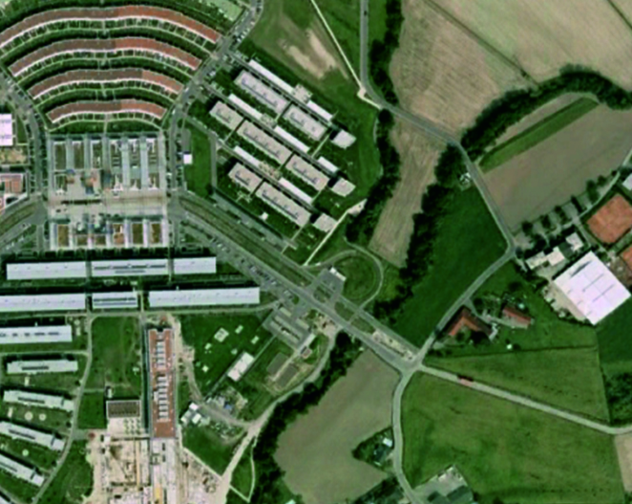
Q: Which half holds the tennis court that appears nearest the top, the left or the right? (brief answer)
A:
right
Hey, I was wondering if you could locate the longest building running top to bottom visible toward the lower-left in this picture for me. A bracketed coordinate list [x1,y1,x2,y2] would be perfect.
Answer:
[149,328,176,438]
